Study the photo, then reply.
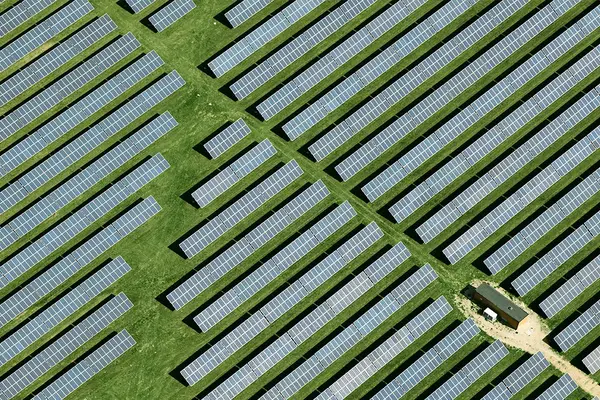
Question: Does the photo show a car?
No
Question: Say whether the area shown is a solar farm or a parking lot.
solar farm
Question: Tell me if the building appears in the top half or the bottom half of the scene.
bottom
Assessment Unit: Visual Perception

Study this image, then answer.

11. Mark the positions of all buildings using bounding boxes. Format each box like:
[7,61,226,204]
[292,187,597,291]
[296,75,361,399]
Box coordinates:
[475,281,528,327]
